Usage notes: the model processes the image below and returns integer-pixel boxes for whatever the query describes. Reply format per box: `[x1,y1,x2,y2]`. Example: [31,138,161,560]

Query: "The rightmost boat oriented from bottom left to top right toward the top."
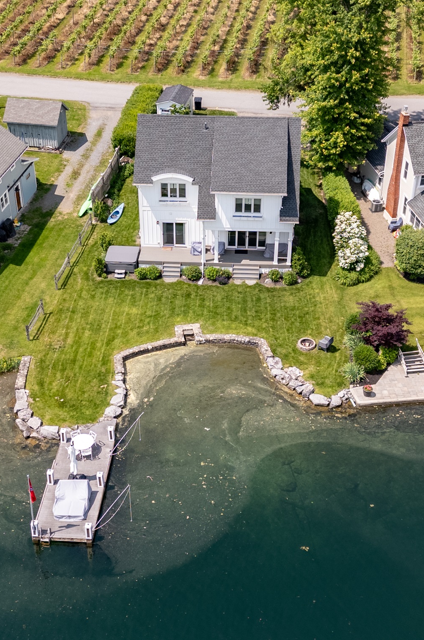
[107,201,123,219]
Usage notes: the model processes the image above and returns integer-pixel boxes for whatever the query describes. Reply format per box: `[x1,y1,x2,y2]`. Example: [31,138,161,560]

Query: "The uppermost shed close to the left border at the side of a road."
[0,97,74,151]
